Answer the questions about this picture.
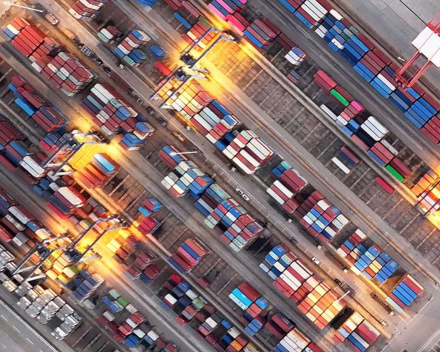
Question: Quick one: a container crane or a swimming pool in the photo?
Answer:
container crane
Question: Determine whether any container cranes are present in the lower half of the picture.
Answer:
Yes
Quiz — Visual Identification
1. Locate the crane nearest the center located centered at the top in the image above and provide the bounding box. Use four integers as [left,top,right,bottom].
[148,64,209,114]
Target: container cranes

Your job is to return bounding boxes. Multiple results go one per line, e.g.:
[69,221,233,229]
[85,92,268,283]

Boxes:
[17,230,72,282]
[180,26,235,75]
[66,214,128,262]
[391,14,440,92]
[43,129,104,179]
[148,64,209,114]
